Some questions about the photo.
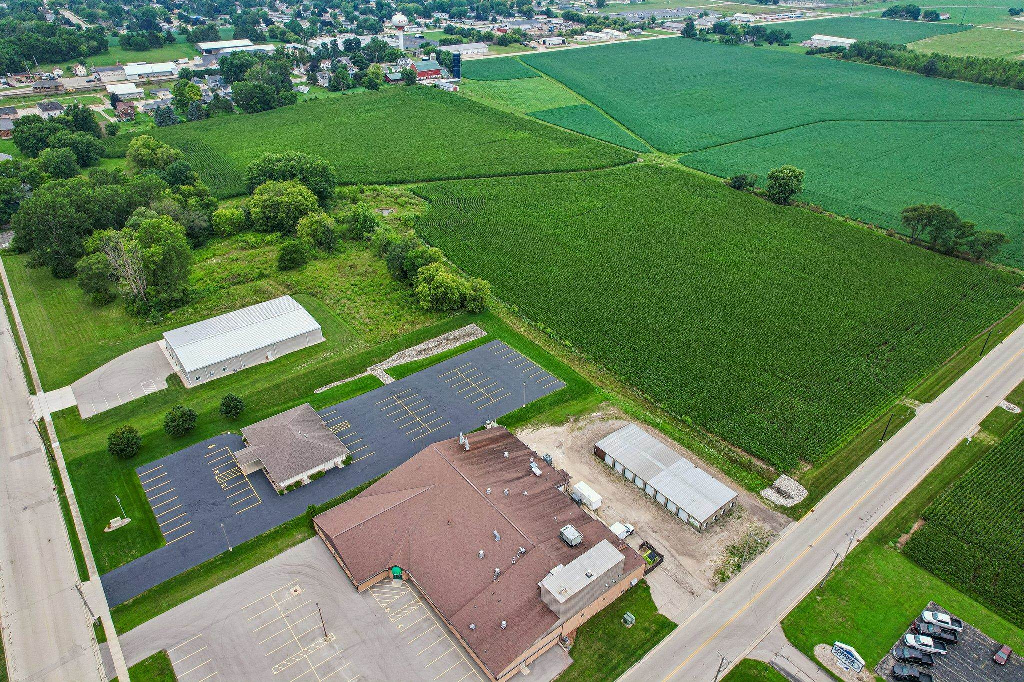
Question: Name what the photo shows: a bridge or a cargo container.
cargo container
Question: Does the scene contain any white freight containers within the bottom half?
Yes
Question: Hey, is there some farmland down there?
Yes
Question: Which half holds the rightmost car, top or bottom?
bottom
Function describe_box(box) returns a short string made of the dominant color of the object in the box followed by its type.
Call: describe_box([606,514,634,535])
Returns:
white truck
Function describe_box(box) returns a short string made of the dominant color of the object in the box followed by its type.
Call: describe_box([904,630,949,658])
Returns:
white truck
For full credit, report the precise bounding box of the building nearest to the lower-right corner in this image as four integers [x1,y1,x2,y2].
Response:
[594,422,740,531]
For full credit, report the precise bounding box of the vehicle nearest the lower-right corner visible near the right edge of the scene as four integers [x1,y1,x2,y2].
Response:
[991,640,1017,668]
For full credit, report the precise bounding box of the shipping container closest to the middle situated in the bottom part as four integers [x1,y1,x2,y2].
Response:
[571,475,605,510]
